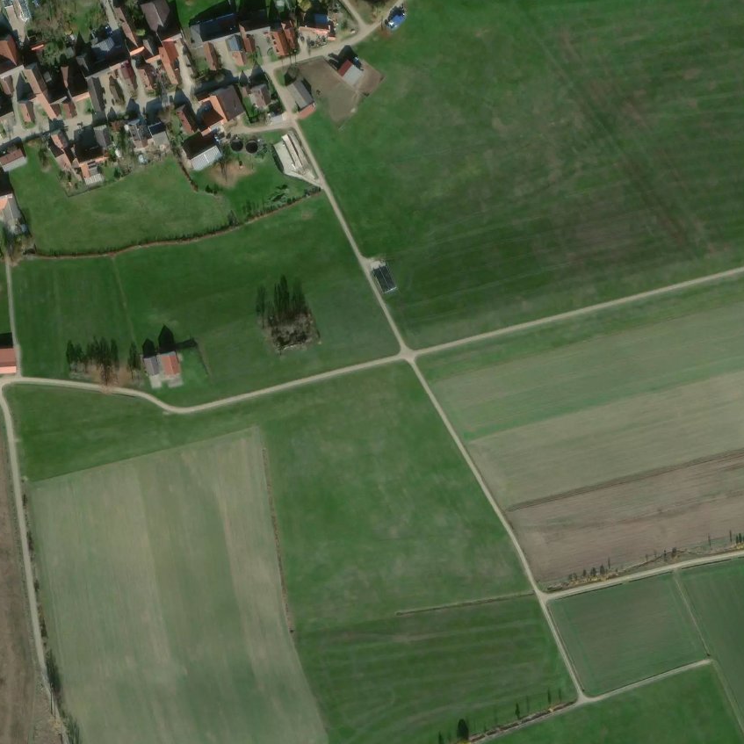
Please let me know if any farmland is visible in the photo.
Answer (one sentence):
Yes, farmland can be seen from above here.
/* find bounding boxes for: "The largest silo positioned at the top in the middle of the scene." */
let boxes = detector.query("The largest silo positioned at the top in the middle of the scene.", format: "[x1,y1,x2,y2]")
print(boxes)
[273,134,325,187]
